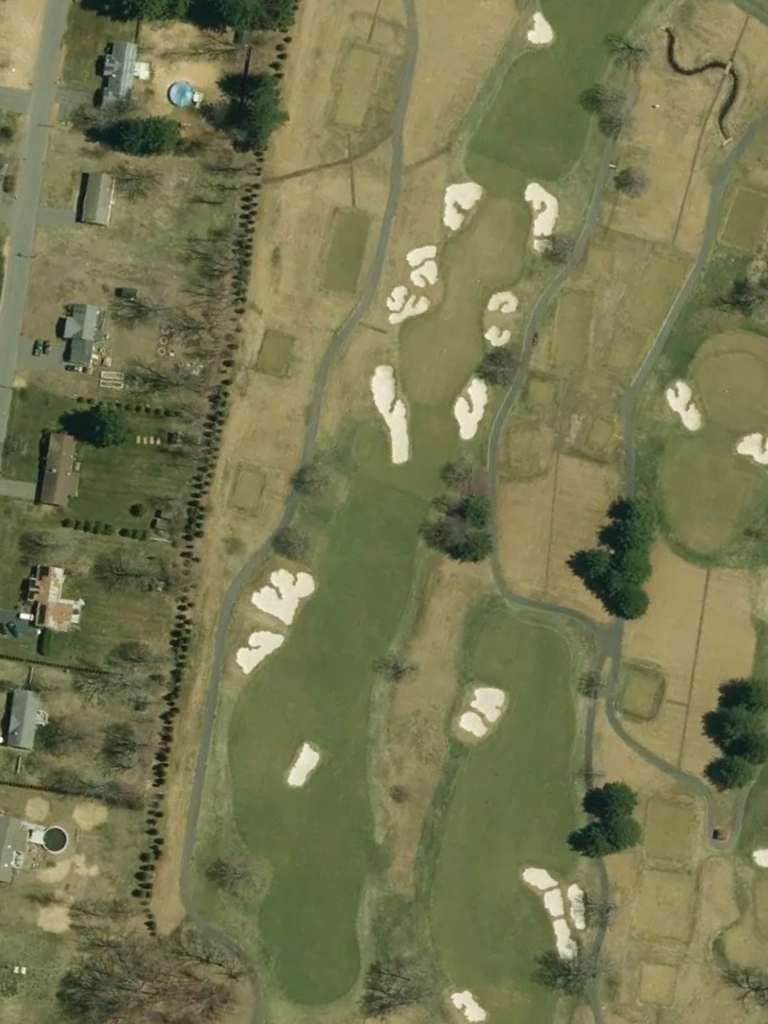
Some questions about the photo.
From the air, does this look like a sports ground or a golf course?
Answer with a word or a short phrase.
golf course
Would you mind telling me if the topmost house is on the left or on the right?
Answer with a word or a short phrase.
left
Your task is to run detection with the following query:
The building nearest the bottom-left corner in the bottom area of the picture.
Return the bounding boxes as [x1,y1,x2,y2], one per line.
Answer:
[0,814,46,884]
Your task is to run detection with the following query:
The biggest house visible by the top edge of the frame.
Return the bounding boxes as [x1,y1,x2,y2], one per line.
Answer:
[95,39,150,106]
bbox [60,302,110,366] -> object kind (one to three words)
house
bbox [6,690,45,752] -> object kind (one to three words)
house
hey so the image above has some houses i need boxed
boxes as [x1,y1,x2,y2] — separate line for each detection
[60,302,110,366]
[95,39,150,106]
[38,430,78,507]
[6,690,45,752]
[0,814,46,884]
[34,561,85,631]
[81,172,114,227]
